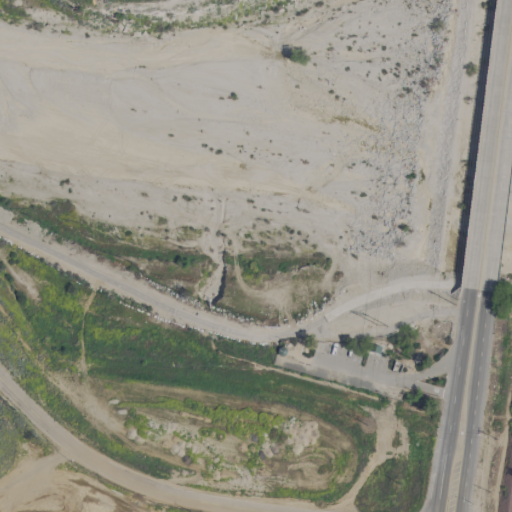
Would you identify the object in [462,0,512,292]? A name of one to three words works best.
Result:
bridge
